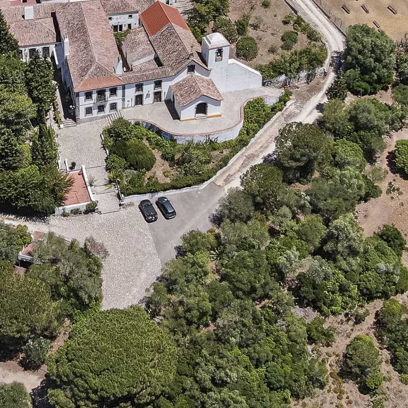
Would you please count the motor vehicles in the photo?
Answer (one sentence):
In total, there are 2 motor vehicles in the scene.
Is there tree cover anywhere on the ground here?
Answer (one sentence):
Yes, there is tree cover in the image.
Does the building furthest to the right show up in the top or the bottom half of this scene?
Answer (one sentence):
Seen from above, the building furthest to the right lies in the top half of the view.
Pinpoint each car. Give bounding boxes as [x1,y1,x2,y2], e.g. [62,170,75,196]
[139,200,158,220]
[156,195,177,216]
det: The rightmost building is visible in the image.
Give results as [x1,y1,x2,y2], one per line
[199,31,231,93]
